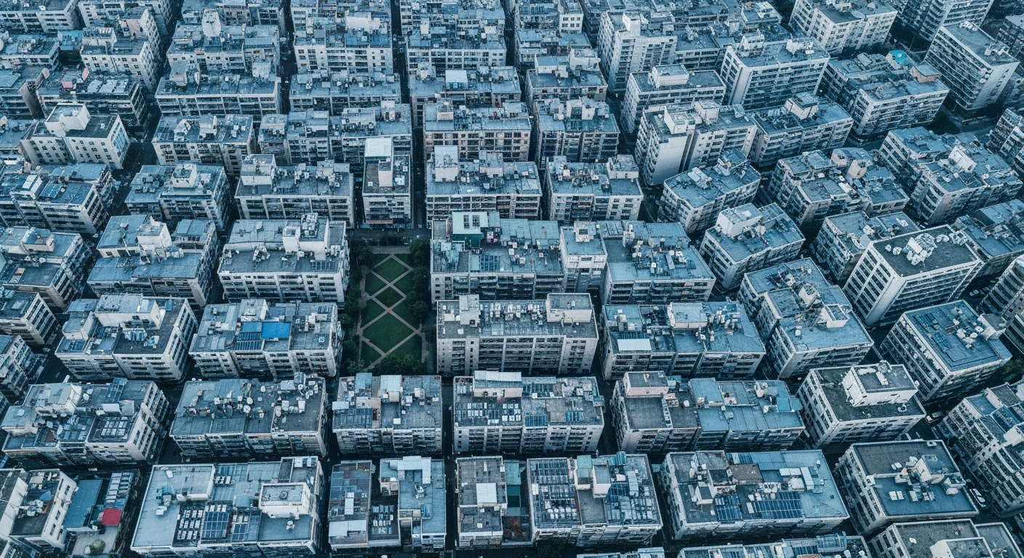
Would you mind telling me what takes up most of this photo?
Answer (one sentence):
Most of the picture is covered by buildings.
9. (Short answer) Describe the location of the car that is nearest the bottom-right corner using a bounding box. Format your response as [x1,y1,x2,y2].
[976,499,993,514]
